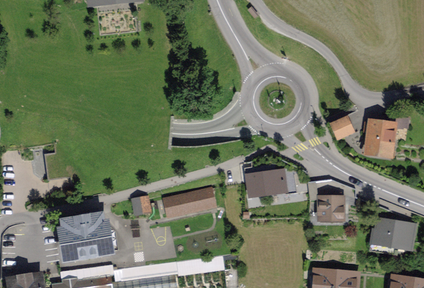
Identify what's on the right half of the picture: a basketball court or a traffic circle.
traffic circle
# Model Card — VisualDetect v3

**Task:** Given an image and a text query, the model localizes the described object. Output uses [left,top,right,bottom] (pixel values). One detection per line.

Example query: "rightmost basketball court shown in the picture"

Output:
[148,226,176,261]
